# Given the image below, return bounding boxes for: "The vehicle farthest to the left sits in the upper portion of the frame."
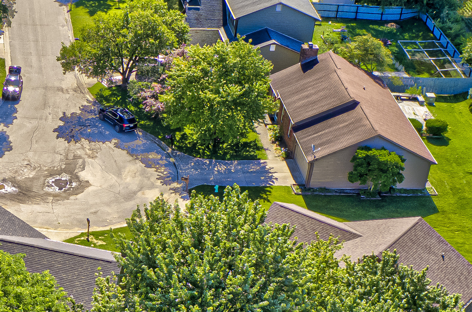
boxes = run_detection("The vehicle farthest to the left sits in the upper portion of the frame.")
[3,60,25,98]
